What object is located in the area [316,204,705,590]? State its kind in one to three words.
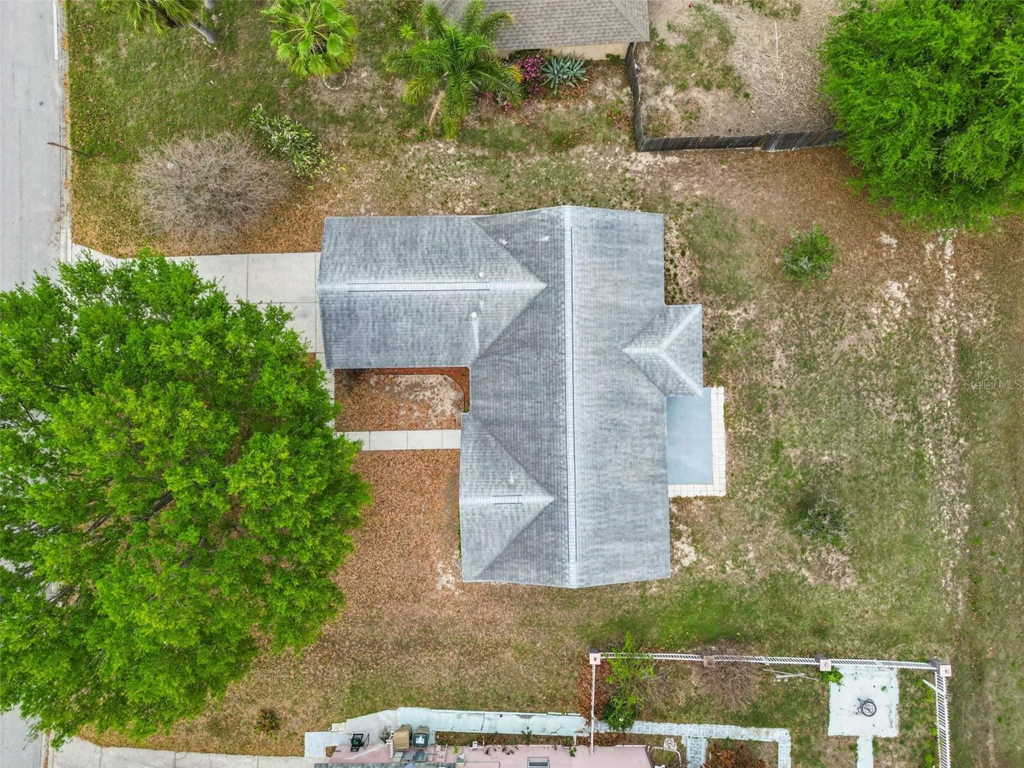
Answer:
house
